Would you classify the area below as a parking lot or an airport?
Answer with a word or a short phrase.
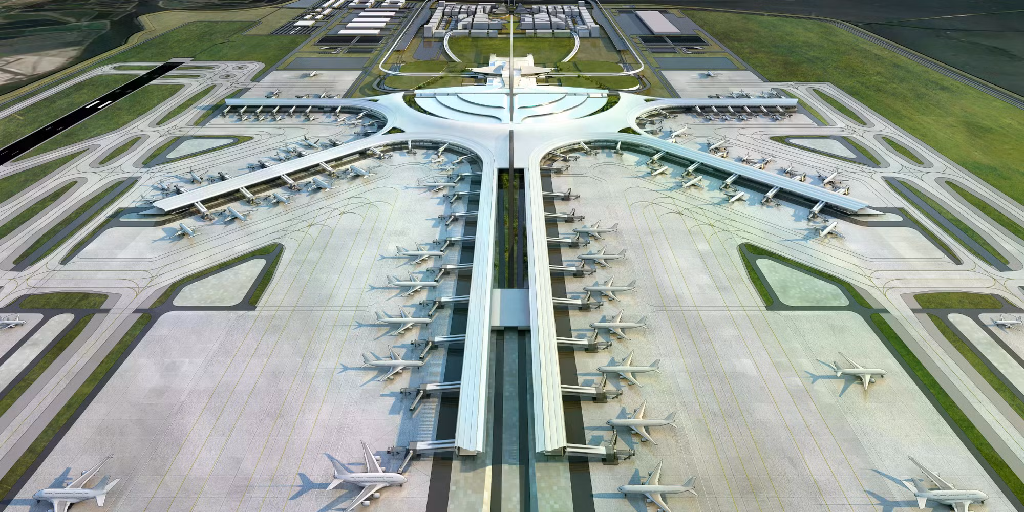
airport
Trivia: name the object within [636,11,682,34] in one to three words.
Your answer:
hangar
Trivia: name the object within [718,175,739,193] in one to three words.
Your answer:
jet bridge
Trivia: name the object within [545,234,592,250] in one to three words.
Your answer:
jet bridge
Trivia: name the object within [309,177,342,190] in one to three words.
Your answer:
airplane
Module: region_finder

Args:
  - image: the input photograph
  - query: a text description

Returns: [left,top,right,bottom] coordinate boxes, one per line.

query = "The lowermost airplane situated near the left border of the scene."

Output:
[33,454,119,512]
